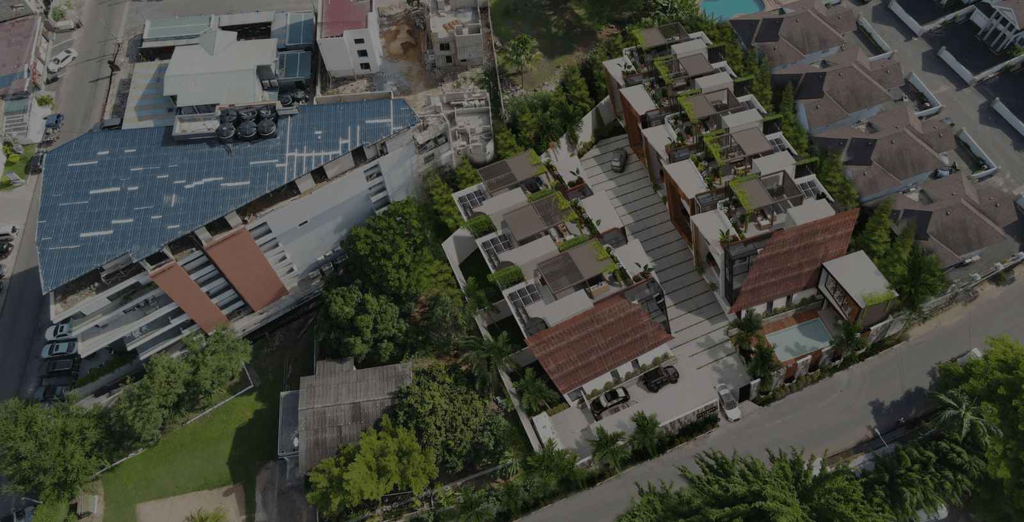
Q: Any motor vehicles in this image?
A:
Yes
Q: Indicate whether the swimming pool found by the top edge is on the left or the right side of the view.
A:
right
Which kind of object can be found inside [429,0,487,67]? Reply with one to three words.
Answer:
house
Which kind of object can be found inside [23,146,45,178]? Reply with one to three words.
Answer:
car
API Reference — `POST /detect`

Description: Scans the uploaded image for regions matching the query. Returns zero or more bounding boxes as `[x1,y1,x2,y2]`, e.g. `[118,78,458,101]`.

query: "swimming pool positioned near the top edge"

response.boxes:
[698,0,766,22]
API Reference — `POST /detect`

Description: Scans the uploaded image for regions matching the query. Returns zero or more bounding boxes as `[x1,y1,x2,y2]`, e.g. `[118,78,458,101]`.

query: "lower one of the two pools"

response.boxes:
[757,307,860,370]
